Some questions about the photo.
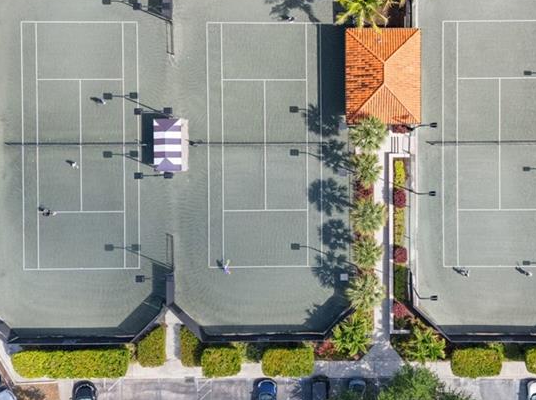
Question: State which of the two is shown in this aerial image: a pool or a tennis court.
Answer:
tennis court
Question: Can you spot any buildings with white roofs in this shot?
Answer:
No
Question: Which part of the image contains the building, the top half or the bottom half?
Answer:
top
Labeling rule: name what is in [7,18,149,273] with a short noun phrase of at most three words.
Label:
tennis court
